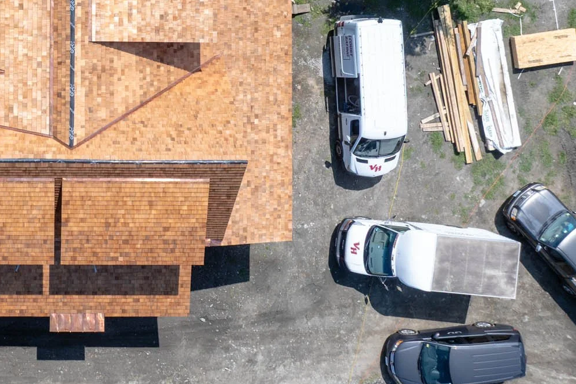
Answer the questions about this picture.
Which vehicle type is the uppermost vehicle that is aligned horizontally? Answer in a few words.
truck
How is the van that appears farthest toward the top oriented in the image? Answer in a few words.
up and down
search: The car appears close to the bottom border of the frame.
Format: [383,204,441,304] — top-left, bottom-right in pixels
[383,320,533,384]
